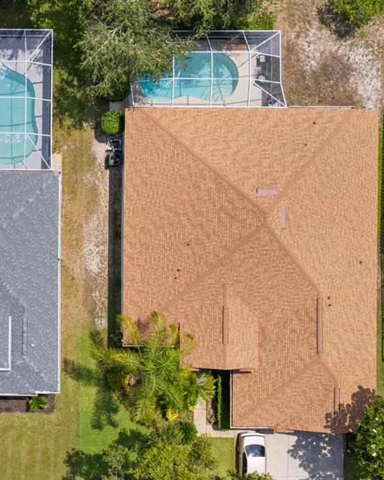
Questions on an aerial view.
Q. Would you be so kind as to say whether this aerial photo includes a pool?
Yes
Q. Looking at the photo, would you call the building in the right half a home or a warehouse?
home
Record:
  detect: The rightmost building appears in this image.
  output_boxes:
[121,106,381,435]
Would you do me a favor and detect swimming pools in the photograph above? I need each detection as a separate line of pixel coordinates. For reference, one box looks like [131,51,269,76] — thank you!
[133,45,243,105]
[0,56,41,167]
